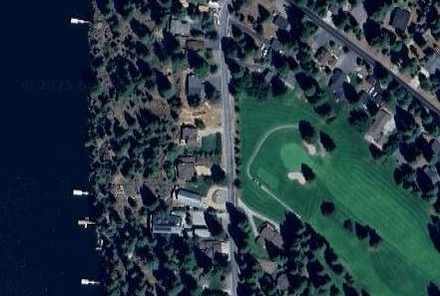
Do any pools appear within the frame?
No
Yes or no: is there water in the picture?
Yes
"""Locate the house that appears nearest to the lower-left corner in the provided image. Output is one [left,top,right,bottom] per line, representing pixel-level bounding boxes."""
[152,213,187,234]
